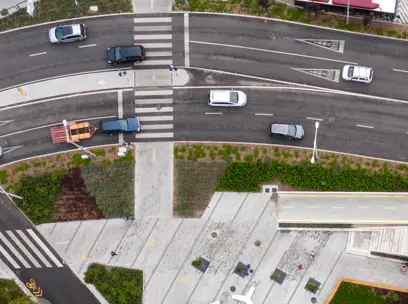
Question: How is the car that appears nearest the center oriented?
horizontally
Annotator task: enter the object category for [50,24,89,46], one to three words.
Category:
car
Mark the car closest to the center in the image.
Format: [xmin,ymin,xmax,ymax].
[208,88,248,109]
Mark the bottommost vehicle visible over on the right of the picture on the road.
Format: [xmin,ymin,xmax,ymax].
[270,122,305,141]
